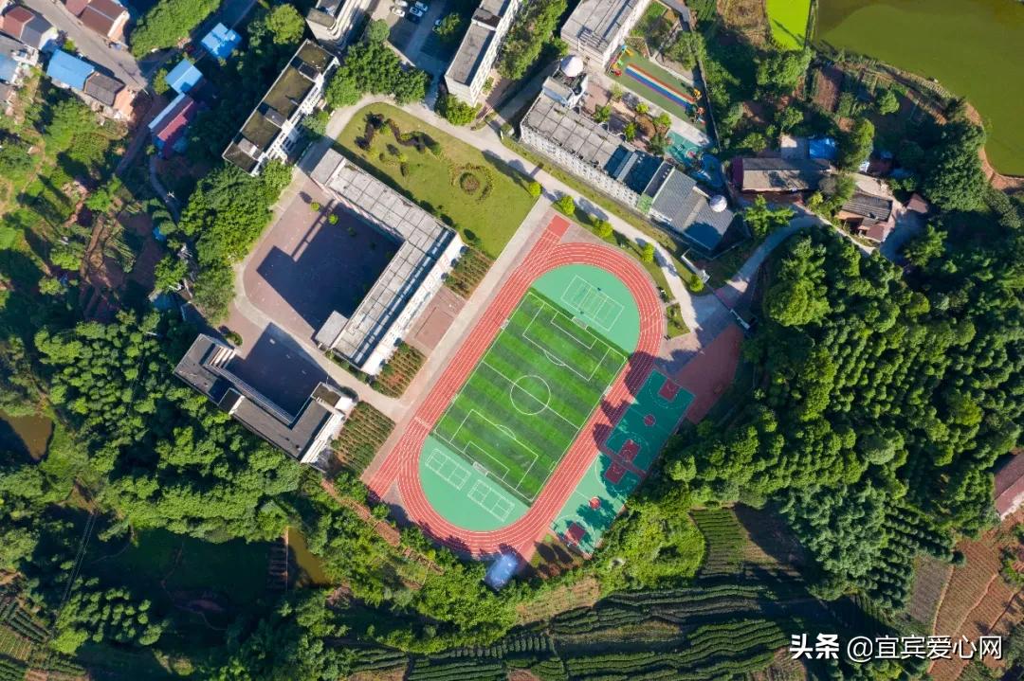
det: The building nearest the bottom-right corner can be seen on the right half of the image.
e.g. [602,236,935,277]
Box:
[992,453,1024,514]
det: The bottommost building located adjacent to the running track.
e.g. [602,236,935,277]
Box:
[172,334,360,462]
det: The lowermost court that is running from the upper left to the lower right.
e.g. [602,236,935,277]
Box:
[467,478,515,521]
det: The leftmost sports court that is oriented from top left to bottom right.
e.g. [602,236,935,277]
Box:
[424,448,472,490]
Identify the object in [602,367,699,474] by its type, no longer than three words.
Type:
basketball court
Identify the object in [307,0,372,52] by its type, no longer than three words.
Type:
building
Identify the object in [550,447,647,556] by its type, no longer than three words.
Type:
basketball court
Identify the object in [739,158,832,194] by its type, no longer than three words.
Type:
house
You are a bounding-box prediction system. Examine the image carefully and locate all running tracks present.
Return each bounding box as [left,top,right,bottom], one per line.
[366,215,661,563]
